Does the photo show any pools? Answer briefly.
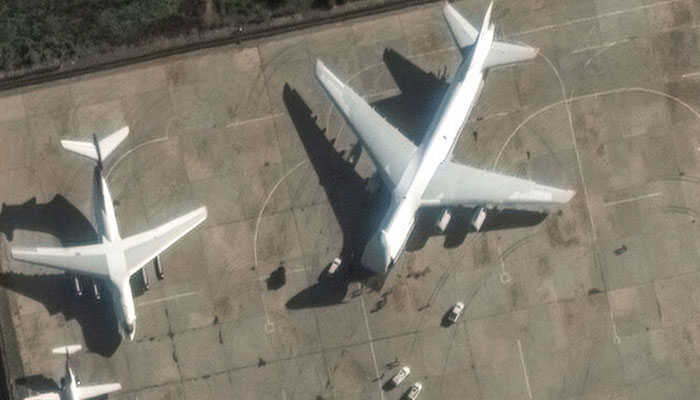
No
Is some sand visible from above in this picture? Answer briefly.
No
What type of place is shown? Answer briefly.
airport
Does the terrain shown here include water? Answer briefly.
No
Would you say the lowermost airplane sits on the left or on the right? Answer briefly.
left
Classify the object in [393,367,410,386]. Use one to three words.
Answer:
car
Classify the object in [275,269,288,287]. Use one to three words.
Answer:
vehicle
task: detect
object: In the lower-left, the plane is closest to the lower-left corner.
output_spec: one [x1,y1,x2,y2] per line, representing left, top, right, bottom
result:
[22,347,120,400]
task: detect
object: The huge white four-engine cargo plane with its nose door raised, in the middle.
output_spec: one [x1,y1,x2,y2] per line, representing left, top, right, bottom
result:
[312,0,574,295]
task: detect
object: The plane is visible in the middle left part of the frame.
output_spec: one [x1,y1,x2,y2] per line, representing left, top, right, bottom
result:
[11,126,206,338]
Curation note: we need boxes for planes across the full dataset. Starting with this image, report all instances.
[11,126,206,338]
[22,347,120,400]
[312,0,574,295]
